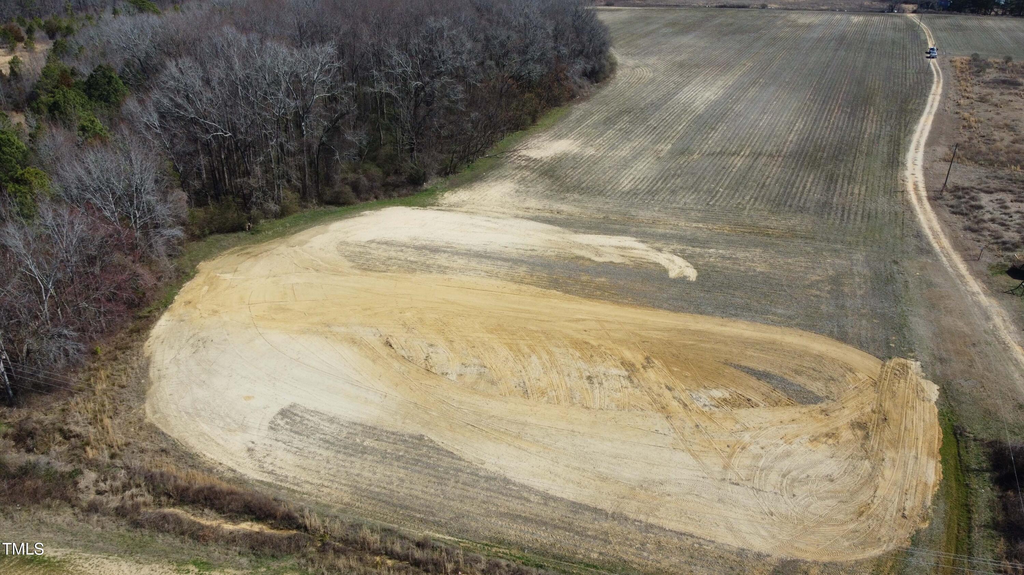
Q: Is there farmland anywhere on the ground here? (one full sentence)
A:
Yes, farmland shows up in the scene.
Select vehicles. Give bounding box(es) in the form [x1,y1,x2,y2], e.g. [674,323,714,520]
[929,45,938,53]
[930,49,940,58]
